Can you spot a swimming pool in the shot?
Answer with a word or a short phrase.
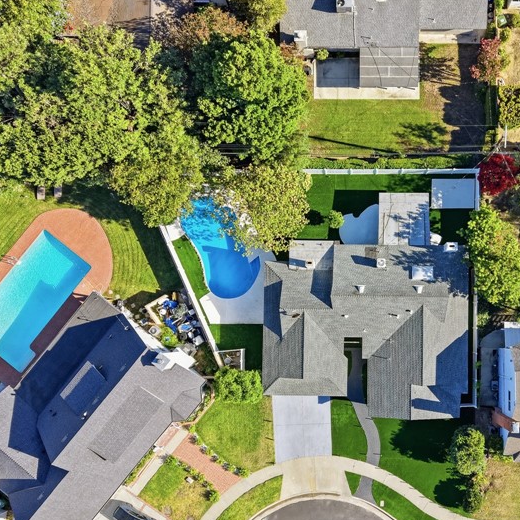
Yes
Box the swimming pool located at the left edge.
[0,229,92,373]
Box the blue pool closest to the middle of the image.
[179,195,262,300]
